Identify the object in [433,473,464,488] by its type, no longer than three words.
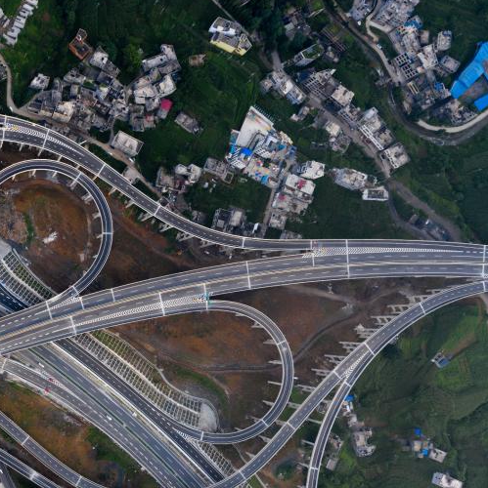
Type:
house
